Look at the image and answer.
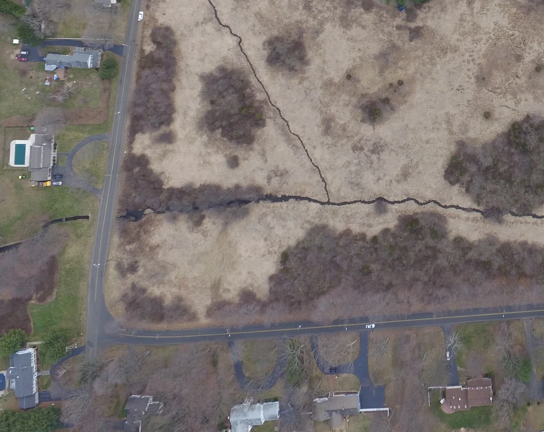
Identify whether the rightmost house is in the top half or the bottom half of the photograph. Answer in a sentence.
It is in the bottom half that the rightmost house appears.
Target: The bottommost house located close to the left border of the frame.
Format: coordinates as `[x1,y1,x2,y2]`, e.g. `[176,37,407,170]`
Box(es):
[5,348,40,410]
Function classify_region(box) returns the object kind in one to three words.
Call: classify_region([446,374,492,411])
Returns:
house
